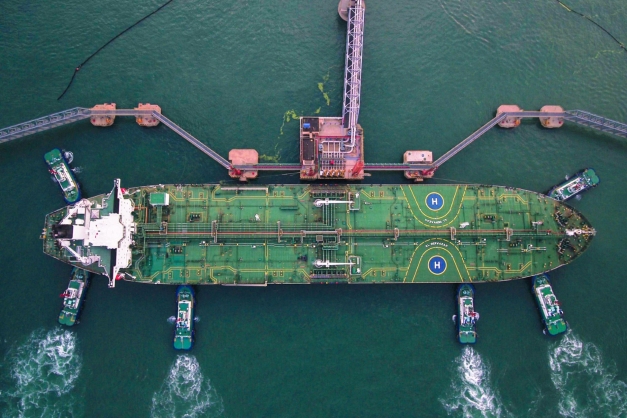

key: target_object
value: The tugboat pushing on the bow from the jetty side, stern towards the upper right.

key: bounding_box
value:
[543,166,601,203]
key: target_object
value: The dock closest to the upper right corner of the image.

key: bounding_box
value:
[338,0,365,23]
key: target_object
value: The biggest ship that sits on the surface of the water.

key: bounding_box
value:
[40,178,599,287]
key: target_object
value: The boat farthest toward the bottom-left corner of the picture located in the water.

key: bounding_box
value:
[55,265,88,327]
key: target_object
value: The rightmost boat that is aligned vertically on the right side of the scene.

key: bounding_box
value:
[533,273,566,338]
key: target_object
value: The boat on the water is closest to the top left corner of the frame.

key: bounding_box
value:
[42,147,81,205]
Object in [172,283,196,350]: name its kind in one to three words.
boat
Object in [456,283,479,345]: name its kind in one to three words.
boat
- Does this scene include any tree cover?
No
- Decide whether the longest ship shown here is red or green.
green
